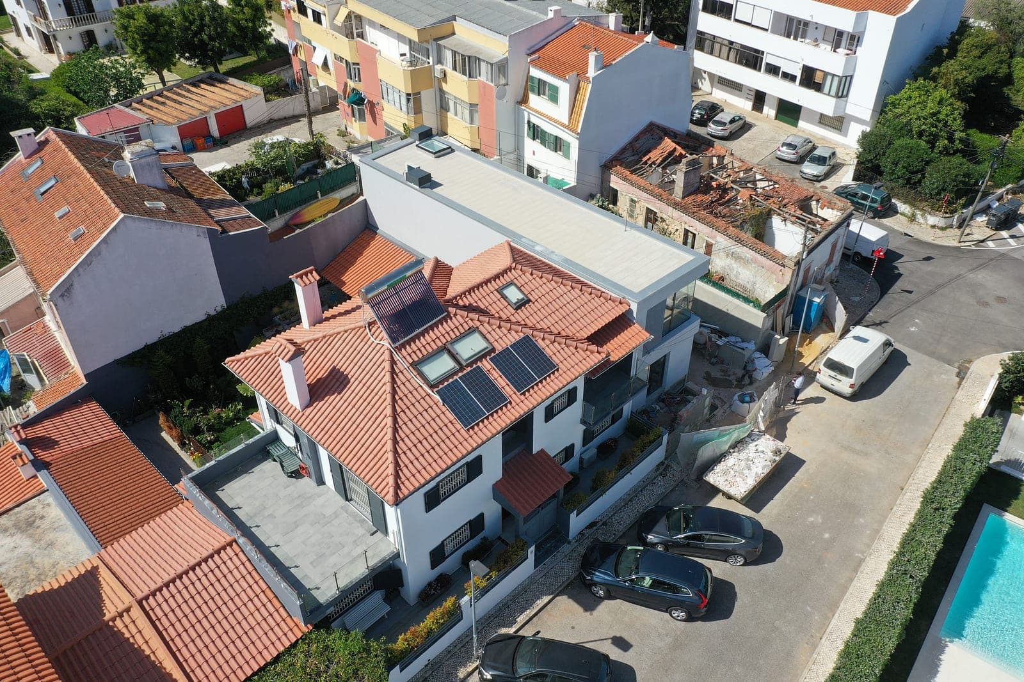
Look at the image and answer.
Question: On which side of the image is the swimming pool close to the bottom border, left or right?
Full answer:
You can find the swimming pool close to the bottom border on the right side of the picture.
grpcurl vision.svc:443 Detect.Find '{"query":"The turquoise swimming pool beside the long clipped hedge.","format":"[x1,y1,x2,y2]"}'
[939,512,1024,682]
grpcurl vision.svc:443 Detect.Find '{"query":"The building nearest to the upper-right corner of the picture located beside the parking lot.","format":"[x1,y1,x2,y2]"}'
[710,0,968,146]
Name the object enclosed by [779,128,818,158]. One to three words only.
car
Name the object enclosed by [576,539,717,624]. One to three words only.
car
